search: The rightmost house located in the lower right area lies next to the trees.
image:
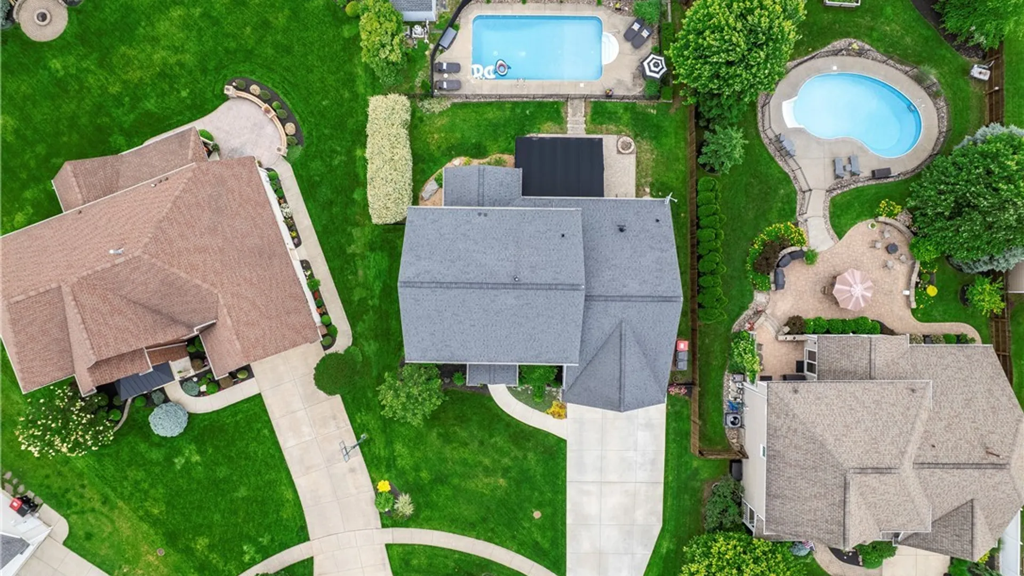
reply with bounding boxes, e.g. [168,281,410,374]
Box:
[743,334,1024,562]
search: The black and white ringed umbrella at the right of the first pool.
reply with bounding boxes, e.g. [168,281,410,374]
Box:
[640,53,666,80]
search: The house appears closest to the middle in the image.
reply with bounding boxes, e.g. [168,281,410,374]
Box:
[397,165,684,412]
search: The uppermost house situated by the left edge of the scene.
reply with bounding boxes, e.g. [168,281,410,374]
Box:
[0,126,326,402]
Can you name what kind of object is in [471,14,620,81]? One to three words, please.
swimming pool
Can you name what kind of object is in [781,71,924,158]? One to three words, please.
swimming pool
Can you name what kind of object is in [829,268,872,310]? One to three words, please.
umbrella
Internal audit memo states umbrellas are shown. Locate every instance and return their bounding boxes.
[829,268,872,310]
[640,53,666,80]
